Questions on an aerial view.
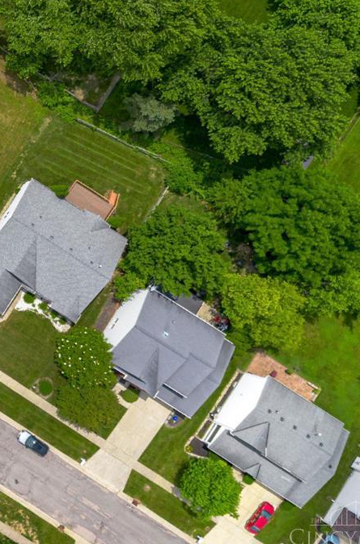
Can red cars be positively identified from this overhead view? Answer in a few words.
Yes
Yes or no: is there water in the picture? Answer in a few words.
No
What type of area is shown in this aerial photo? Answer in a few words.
residential area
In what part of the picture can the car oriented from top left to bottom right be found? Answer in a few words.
bottom left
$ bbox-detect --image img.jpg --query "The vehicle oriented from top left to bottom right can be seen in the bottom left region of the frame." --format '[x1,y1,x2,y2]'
[14,429,51,459]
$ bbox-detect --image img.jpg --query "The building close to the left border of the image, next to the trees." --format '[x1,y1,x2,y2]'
[0,179,127,324]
